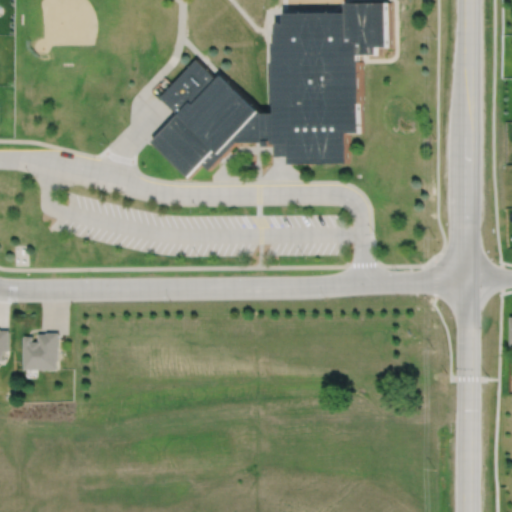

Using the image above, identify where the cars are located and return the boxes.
[62,152,74,158]
[302,216,310,228]
[318,215,326,226]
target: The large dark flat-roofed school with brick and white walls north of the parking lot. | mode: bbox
[152,0,390,177]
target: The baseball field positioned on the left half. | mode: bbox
[25,0,98,59]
